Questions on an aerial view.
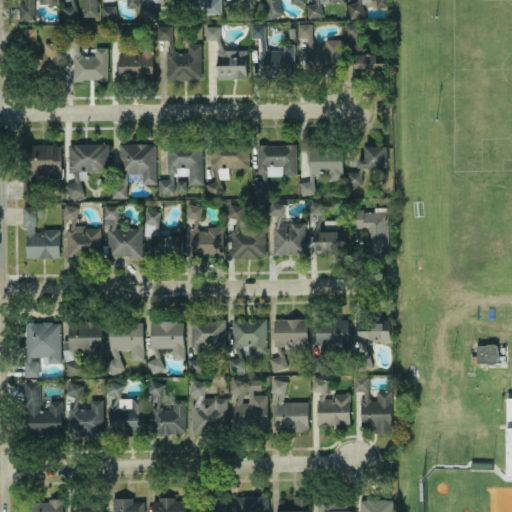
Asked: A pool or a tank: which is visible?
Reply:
pool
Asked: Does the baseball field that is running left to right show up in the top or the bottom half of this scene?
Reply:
bottom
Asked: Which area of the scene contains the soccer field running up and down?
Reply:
top right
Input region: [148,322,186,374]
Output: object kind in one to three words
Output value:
house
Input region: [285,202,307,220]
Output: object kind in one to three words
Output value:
swimming pool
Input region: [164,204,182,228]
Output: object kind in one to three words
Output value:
swimming pool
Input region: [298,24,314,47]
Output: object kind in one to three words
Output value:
building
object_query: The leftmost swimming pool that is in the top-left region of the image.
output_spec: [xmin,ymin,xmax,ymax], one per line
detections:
[38,5,59,22]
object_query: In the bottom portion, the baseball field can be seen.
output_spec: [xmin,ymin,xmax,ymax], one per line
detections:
[426,474,512,512]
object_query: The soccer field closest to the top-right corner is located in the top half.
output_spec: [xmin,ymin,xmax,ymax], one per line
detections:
[454,0,512,172]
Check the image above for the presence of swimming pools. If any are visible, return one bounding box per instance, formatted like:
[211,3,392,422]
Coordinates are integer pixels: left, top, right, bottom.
[284,0,303,20]
[117,0,138,22]
[164,204,182,228]
[268,28,286,47]
[315,24,342,41]
[366,9,388,20]
[38,5,59,22]
[42,384,64,399]
[80,204,102,226]
[124,204,140,227]
[370,376,389,398]
[199,206,221,228]
[124,381,144,399]
[164,352,186,376]
[374,344,392,370]
[222,25,249,46]
[285,202,307,220]
[128,183,154,200]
